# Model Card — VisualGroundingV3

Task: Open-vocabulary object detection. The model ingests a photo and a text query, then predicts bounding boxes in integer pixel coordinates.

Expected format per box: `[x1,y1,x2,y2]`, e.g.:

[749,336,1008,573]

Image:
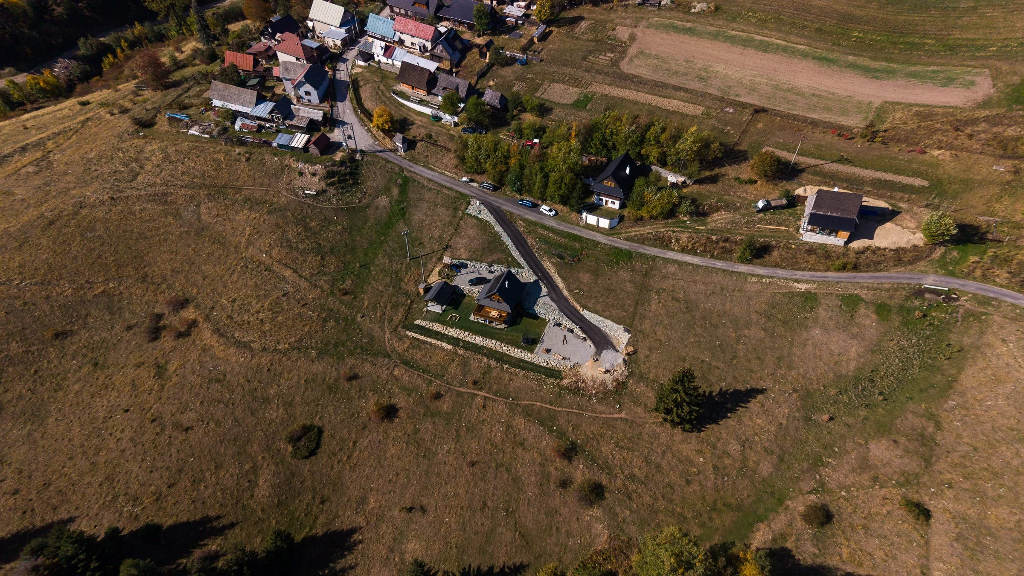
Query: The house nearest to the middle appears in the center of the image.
[475,269,524,332]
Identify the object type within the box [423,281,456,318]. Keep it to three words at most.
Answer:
building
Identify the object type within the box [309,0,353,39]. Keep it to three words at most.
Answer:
house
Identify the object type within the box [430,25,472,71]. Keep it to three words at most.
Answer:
barn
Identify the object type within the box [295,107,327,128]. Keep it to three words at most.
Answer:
shed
